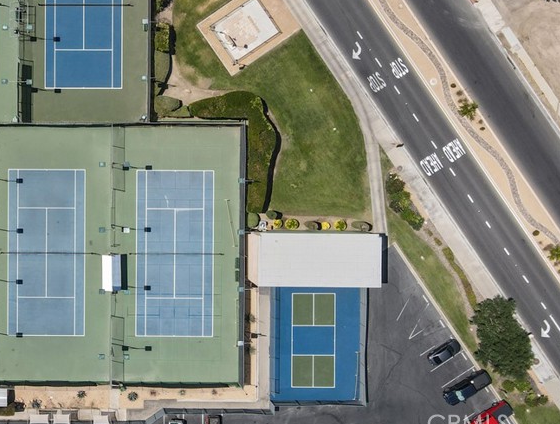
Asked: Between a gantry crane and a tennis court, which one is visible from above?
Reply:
tennis court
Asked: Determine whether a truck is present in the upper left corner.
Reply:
No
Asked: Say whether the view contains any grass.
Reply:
Yes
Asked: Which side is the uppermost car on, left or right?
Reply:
right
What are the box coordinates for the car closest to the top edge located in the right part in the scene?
[427,339,460,364]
